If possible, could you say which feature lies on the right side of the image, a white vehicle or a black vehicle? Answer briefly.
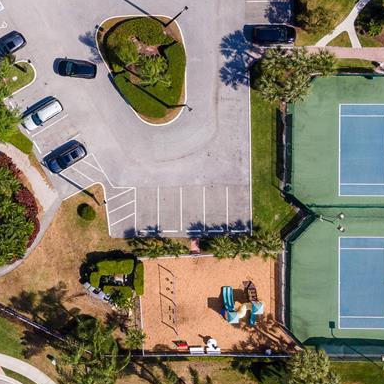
black vehicle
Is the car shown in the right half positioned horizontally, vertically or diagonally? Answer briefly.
horizontally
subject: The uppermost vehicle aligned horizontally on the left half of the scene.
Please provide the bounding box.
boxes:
[54,58,98,79]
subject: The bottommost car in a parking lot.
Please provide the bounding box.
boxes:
[44,139,87,172]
